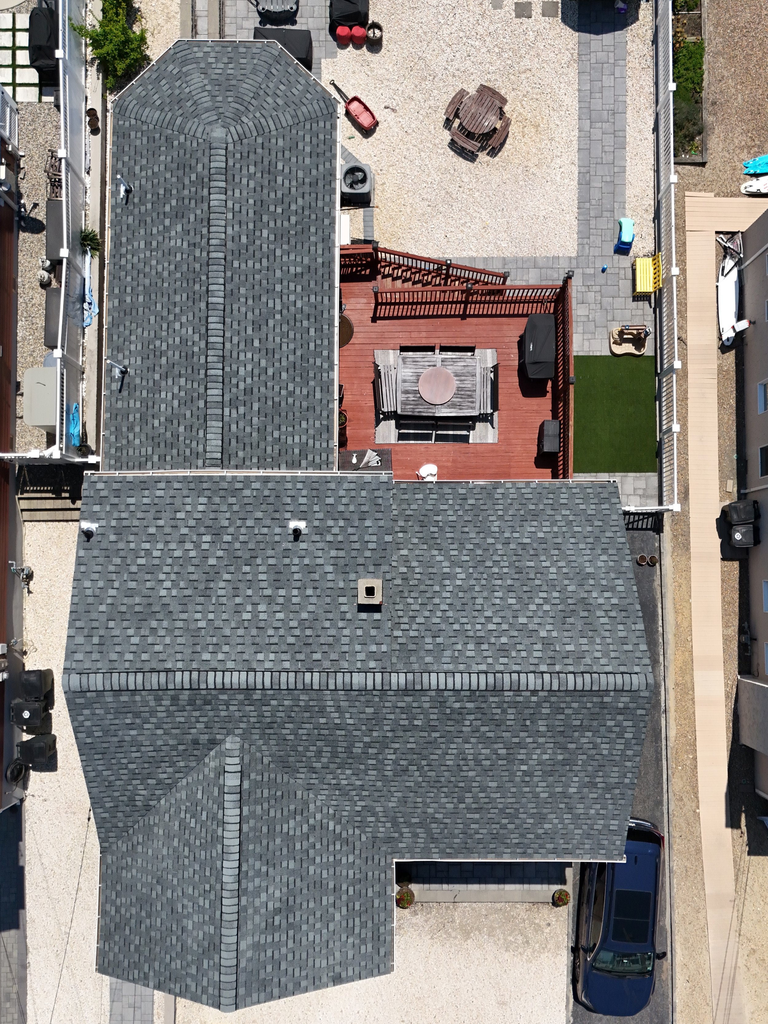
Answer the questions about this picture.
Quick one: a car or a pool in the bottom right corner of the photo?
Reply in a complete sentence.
You can see a car in the bottom right corner of the photo.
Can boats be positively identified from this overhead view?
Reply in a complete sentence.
Yes, this view includes a boat.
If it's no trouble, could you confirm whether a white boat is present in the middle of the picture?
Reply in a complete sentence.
No, I can find no white boat in the middle of the picture.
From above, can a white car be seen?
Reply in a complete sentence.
No, no white car is visible in the scene.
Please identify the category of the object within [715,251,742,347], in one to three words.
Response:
boat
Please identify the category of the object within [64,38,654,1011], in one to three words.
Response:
house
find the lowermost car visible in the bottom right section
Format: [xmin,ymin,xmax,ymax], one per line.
[571,815,669,1013]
